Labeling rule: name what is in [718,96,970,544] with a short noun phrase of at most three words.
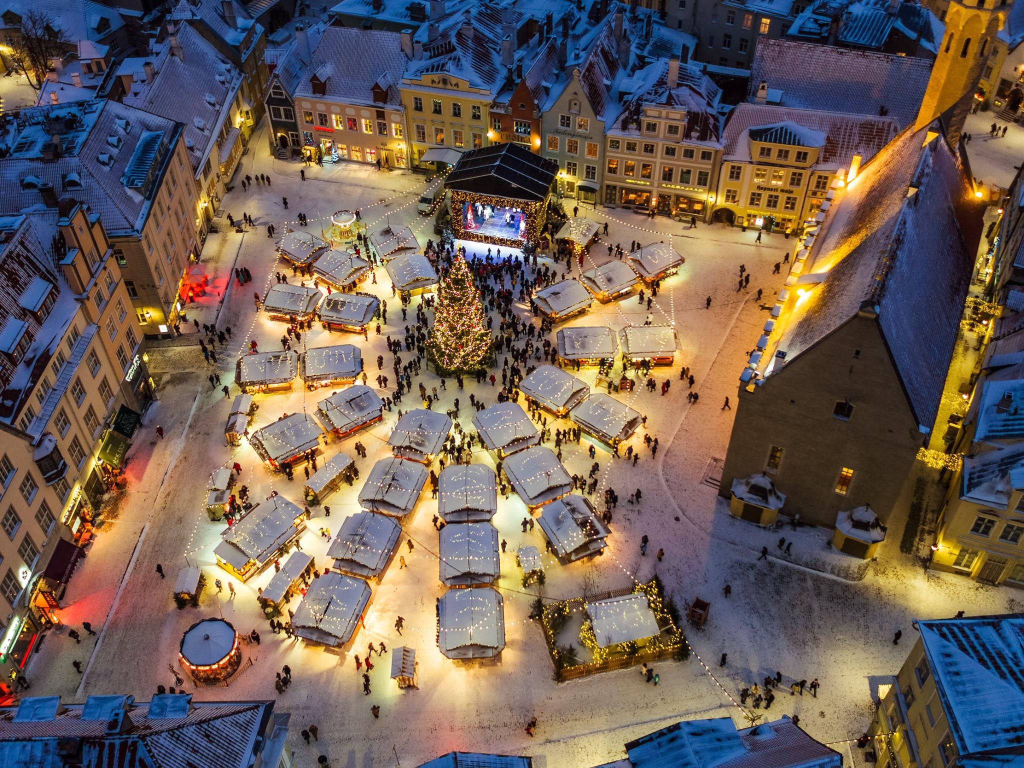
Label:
building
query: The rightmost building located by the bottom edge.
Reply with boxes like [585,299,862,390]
[865,615,1024,768]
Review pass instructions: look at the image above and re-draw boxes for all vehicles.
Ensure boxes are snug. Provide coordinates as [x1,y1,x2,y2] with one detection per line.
[416,182,441,217]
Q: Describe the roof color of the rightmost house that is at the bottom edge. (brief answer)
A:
blue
